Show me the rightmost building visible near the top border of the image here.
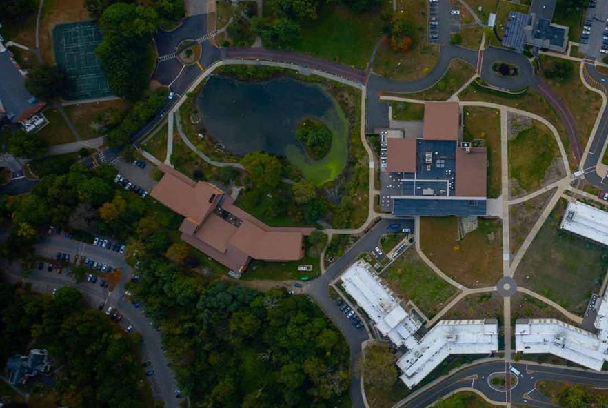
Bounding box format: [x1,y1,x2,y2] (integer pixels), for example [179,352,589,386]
[502,0,569,53]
